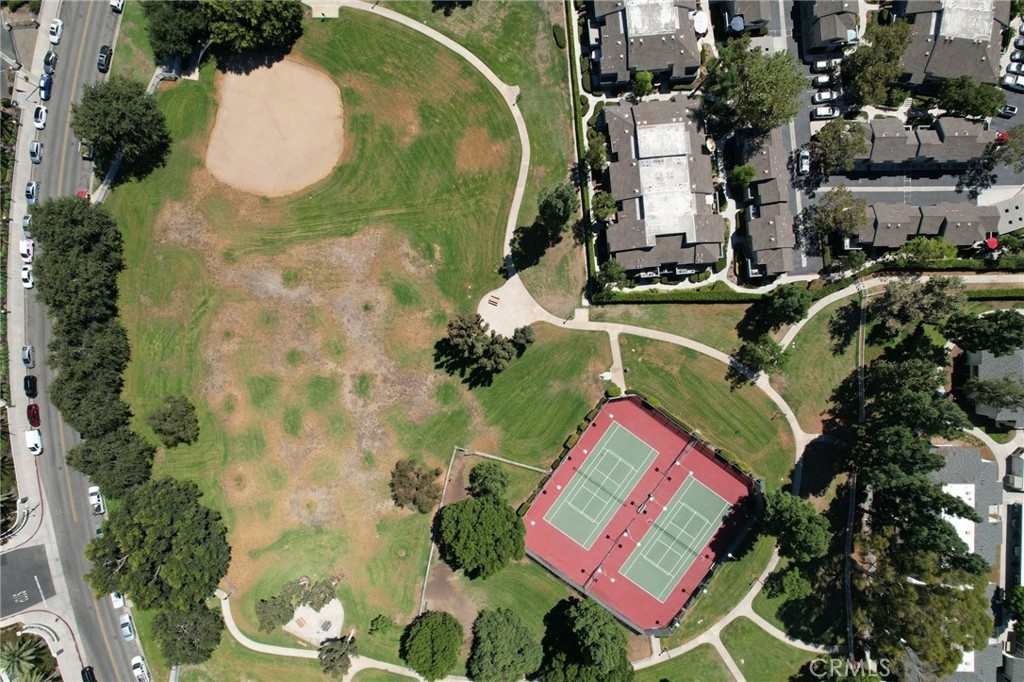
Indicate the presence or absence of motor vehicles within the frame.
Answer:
Yes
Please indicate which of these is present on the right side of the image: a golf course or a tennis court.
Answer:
tennis court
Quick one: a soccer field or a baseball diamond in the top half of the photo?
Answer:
baseball diamond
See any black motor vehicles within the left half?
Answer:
Yes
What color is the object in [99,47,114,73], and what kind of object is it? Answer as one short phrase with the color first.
black car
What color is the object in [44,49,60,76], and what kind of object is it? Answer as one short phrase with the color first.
gray car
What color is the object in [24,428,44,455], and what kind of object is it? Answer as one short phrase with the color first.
white vehicle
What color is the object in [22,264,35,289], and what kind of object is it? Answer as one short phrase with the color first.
white vehicle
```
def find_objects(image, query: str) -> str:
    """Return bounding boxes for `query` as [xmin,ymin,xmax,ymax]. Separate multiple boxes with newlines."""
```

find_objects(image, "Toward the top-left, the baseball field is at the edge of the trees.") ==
[205,57,345,199]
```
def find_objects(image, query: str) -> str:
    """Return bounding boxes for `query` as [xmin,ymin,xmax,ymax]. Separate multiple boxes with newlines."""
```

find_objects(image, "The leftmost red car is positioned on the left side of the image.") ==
[28,402,42,428]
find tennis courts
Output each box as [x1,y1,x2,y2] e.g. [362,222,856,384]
[524,394,692,587]
[585,438,751,628]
